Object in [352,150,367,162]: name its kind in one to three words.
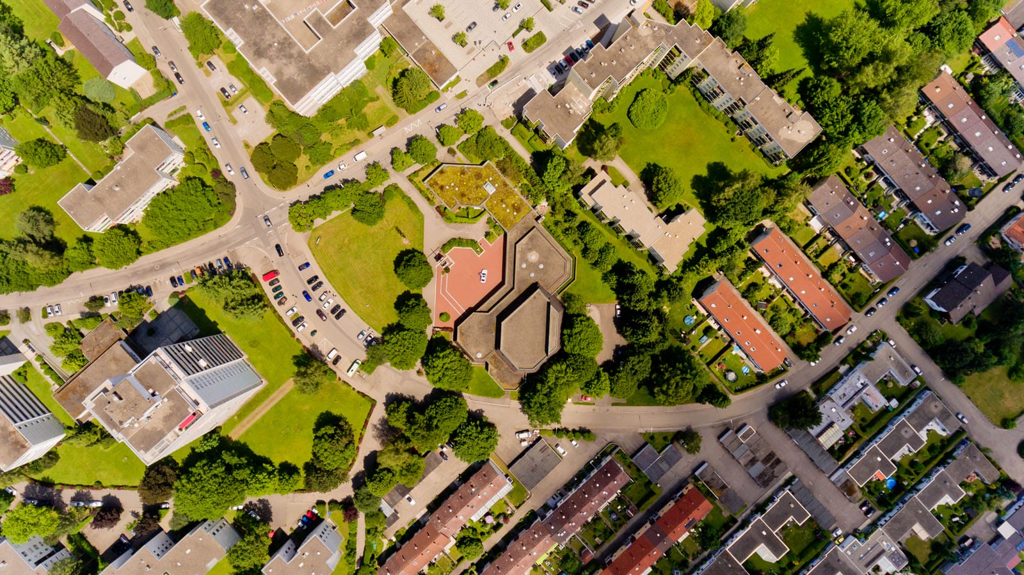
vehicle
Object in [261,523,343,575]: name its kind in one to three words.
building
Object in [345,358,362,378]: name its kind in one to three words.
vehicle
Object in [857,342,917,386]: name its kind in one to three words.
house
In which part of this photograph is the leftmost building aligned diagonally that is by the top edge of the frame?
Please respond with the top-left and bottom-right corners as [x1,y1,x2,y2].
[59,8,145,87]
